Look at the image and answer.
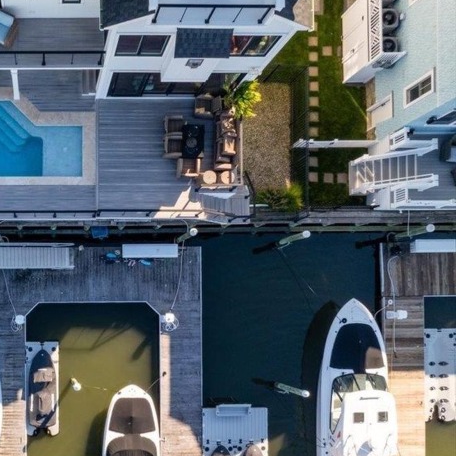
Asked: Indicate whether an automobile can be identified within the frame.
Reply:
No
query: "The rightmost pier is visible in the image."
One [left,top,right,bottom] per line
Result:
[426,329,456,422]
